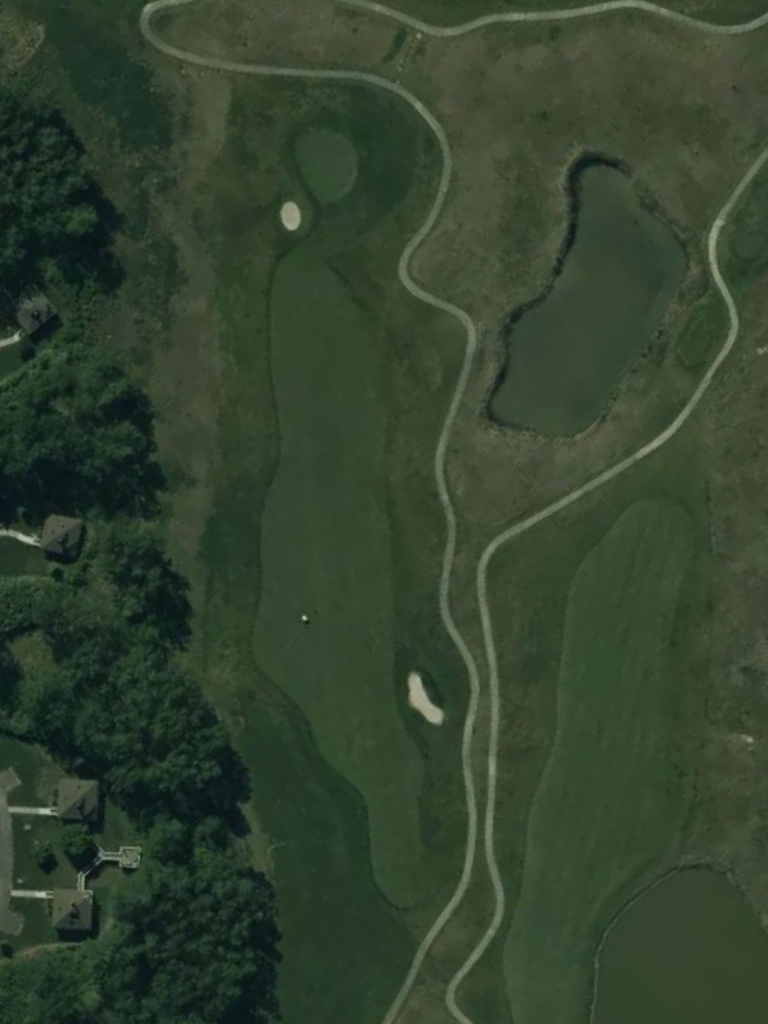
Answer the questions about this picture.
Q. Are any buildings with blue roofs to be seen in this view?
No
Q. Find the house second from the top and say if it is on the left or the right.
left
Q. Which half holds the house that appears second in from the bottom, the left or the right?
left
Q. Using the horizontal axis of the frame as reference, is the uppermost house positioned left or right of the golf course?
on the left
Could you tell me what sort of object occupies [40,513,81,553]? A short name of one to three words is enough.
house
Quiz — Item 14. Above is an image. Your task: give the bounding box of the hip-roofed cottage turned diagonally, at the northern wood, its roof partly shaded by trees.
[6,284,56,334]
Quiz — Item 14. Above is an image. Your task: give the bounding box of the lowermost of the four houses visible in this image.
[49,889,93,930]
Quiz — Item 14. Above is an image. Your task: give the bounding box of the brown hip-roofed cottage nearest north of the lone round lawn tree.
[57,780,97,820]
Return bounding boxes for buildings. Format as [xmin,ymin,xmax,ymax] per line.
[57,780,97,820]
[6,284,56,334]
[40,513,81,553]
[49,889,93,930]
